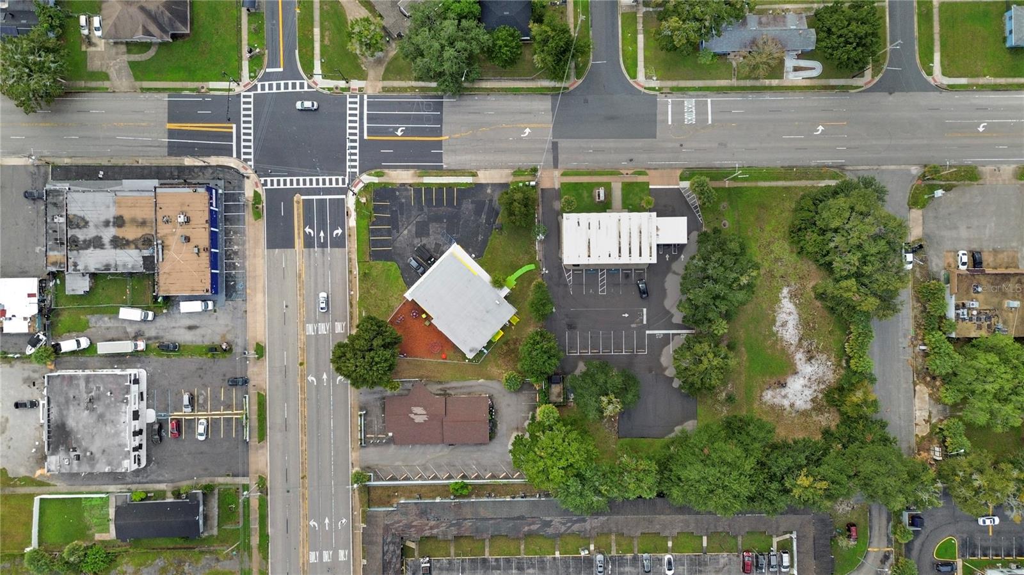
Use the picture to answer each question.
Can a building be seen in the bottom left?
Yes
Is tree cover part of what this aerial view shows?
Yes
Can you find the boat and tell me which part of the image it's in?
left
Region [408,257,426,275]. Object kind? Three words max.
car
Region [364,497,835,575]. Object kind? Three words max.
building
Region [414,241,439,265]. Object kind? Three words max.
truck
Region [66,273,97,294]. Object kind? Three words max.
shed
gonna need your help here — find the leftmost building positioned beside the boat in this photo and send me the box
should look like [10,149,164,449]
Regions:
[0,277,44,333]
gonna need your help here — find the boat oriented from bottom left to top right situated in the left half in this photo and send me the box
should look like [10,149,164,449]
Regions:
[23,332,44,355]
